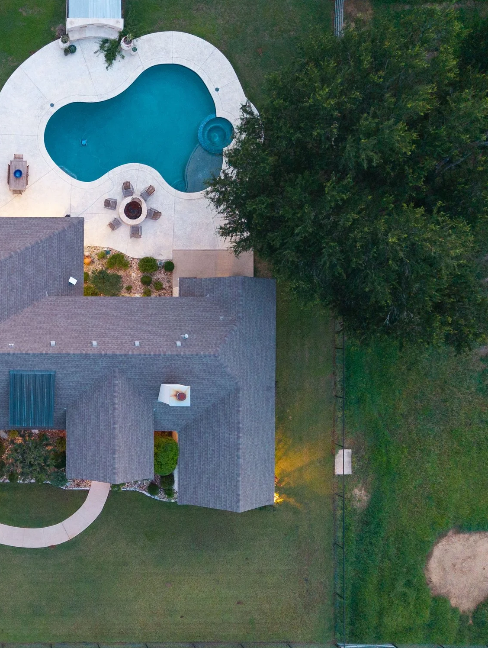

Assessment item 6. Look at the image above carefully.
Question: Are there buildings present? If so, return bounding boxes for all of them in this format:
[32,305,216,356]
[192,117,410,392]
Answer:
[64,0,124,43]
[0,215,276,513]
